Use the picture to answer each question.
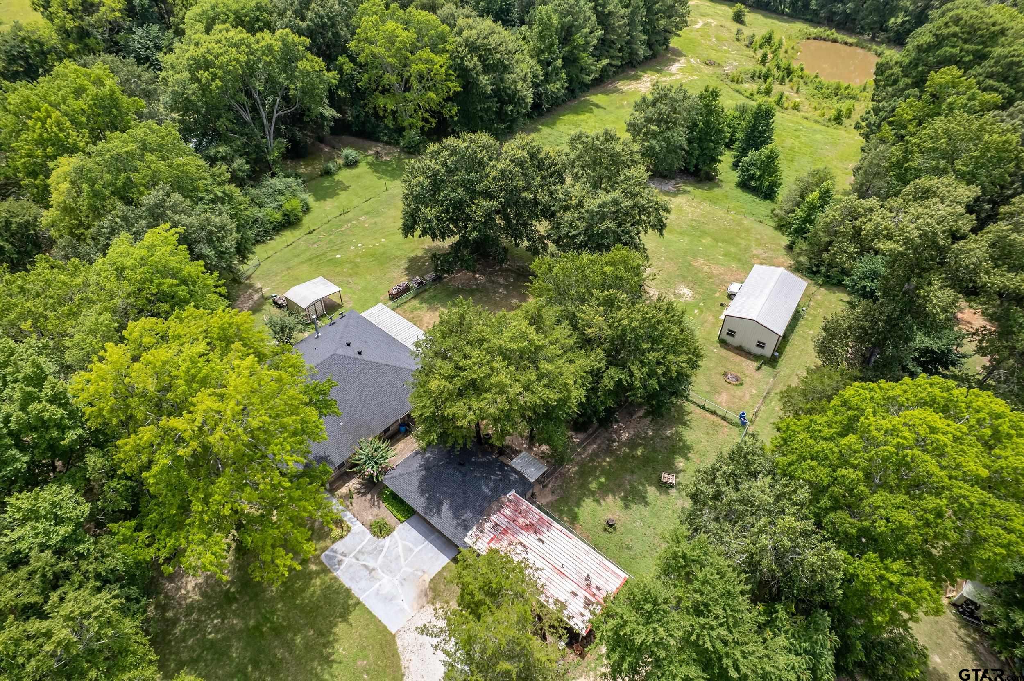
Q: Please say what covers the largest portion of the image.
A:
trees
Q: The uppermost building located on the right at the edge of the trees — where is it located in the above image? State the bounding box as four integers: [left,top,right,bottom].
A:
[716,264,809,360]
